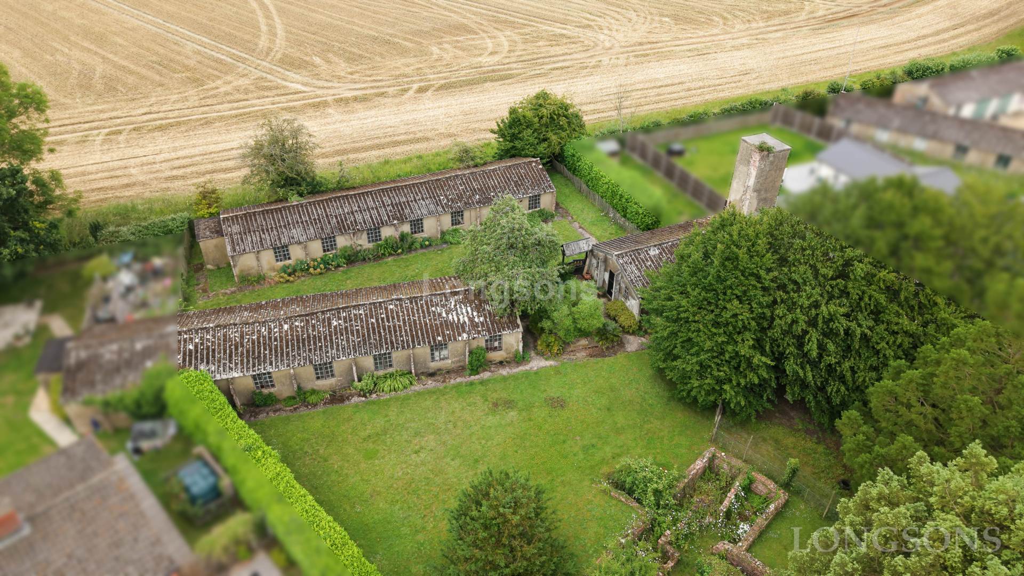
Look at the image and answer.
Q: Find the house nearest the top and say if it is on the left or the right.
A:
right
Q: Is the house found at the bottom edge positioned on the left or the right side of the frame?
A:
left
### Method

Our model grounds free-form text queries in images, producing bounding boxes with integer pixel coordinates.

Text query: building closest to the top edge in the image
[886,58,1024,127]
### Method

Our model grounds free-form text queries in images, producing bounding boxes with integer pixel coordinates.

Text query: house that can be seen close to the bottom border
[0,434,207,576]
